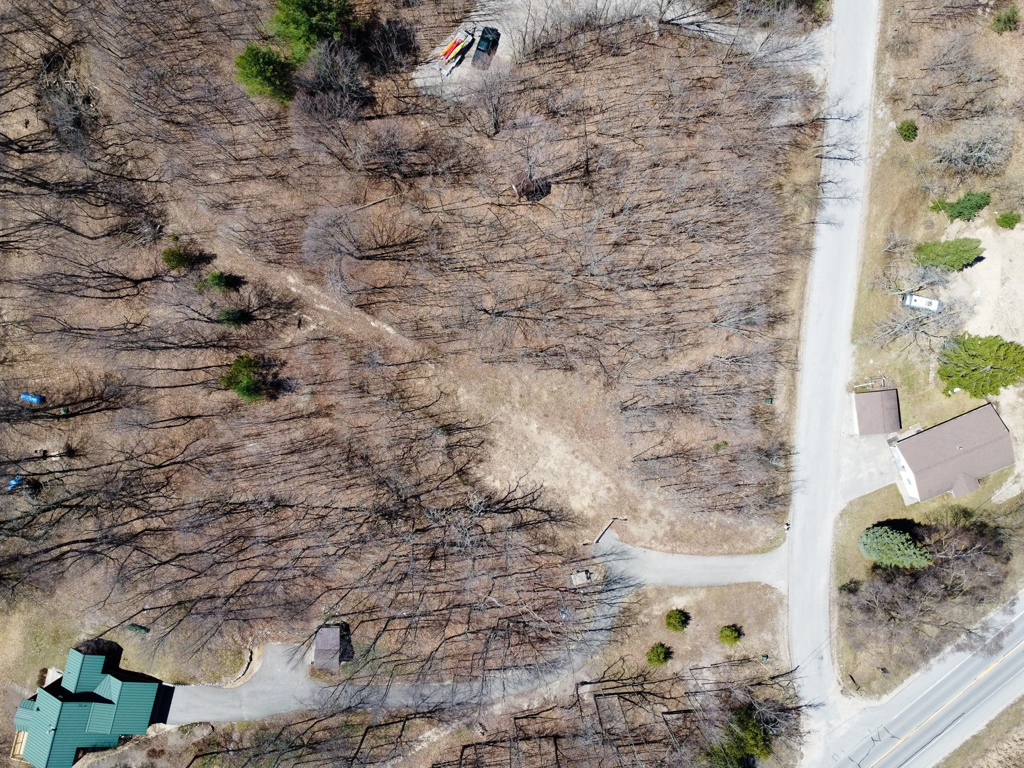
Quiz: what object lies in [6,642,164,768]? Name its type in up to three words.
building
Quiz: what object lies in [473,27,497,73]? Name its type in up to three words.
truck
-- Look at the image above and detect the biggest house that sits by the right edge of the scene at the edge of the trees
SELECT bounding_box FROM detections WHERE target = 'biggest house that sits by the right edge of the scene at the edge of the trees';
[891,404,1016,503]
